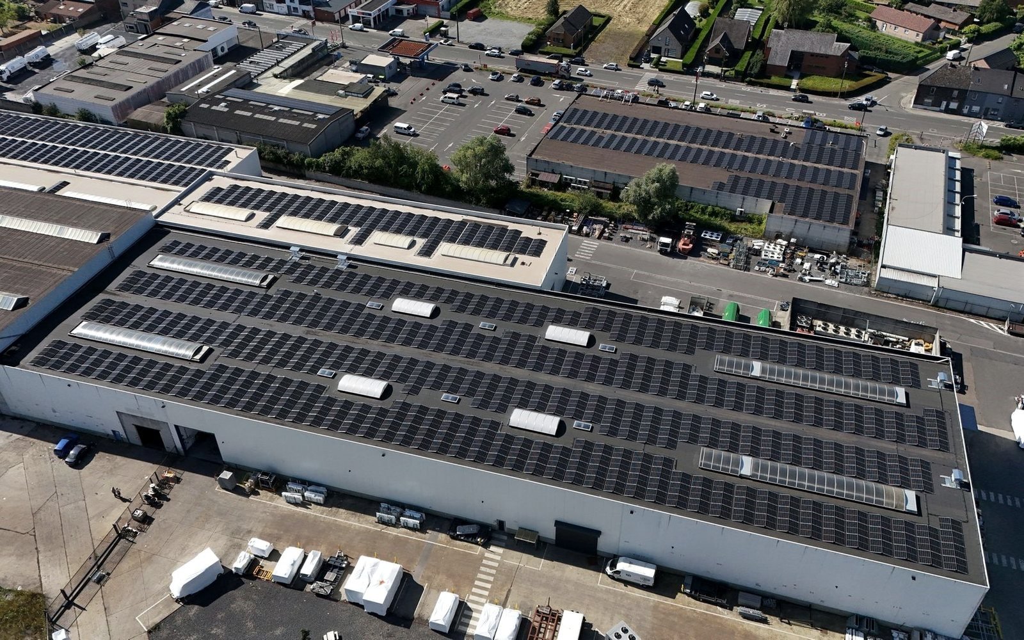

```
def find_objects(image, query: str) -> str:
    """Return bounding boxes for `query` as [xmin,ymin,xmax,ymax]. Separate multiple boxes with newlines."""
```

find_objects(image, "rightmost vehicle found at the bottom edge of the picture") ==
[681,573,733,608]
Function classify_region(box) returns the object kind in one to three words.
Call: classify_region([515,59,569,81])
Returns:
truck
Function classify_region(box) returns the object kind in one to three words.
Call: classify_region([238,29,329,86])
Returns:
building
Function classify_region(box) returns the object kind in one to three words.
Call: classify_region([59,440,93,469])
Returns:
car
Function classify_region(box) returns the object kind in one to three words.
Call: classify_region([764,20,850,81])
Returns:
house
